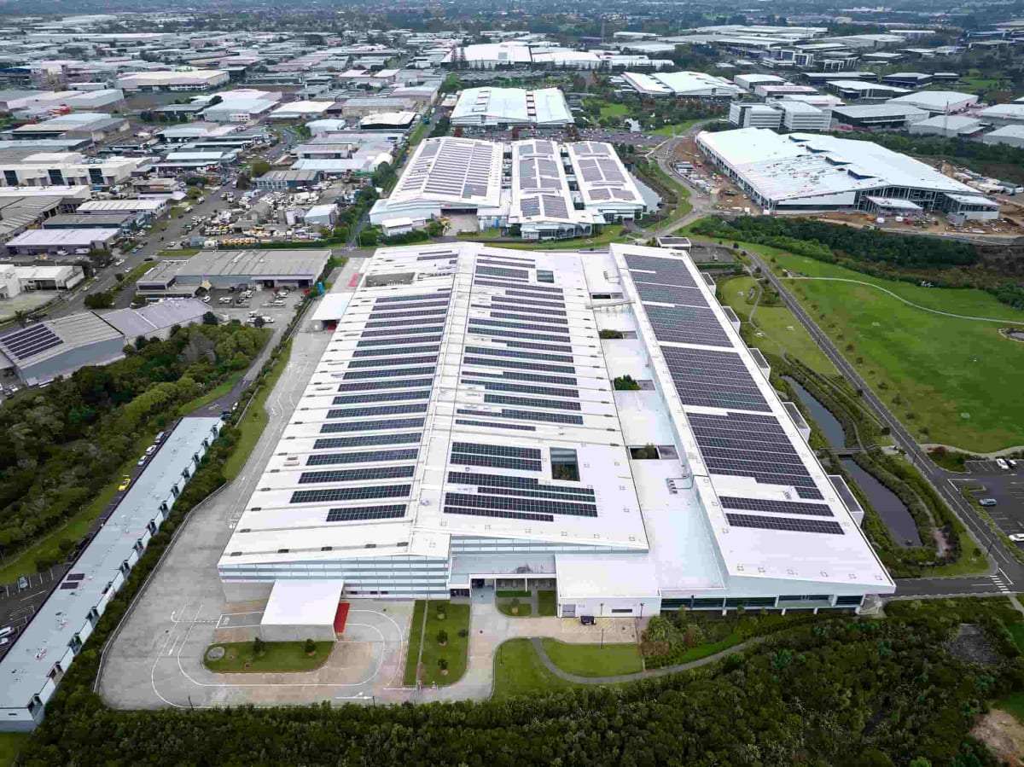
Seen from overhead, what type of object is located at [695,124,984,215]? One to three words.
building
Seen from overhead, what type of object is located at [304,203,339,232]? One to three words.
shed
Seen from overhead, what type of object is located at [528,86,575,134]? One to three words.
building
